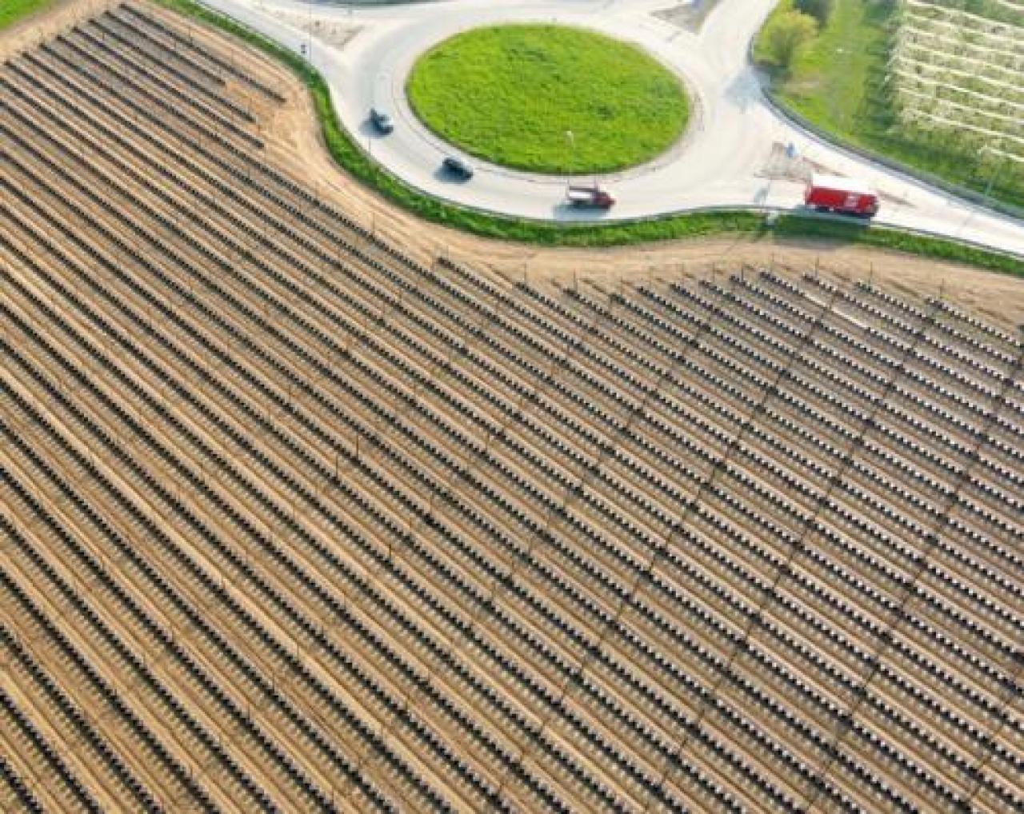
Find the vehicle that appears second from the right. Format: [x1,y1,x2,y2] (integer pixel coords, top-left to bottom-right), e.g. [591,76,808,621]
[567,188,617,212]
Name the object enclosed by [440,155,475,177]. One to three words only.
car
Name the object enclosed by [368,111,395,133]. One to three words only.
car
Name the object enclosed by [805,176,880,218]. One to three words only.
truck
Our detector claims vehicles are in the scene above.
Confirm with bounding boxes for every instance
[805,176,880,218]
[567,188,617,212]
[440,155,475,177]
[368,111,395,133]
